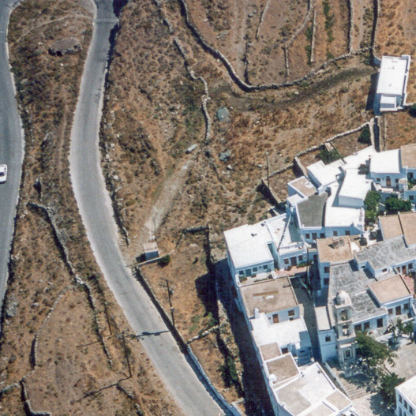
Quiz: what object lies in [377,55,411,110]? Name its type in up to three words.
house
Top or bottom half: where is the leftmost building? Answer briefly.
top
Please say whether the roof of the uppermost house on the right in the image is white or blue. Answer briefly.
white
